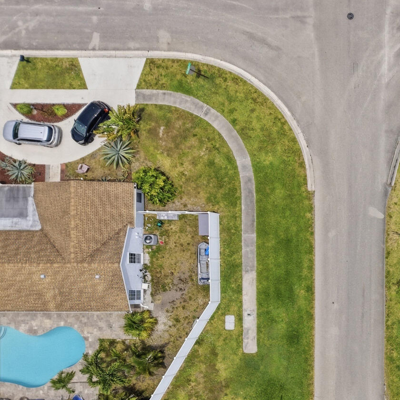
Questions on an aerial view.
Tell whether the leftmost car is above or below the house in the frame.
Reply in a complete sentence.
Relative to the house, the leftmost car lies above it.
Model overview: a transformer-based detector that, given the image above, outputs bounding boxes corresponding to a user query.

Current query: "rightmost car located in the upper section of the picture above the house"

[70,97,109,147]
